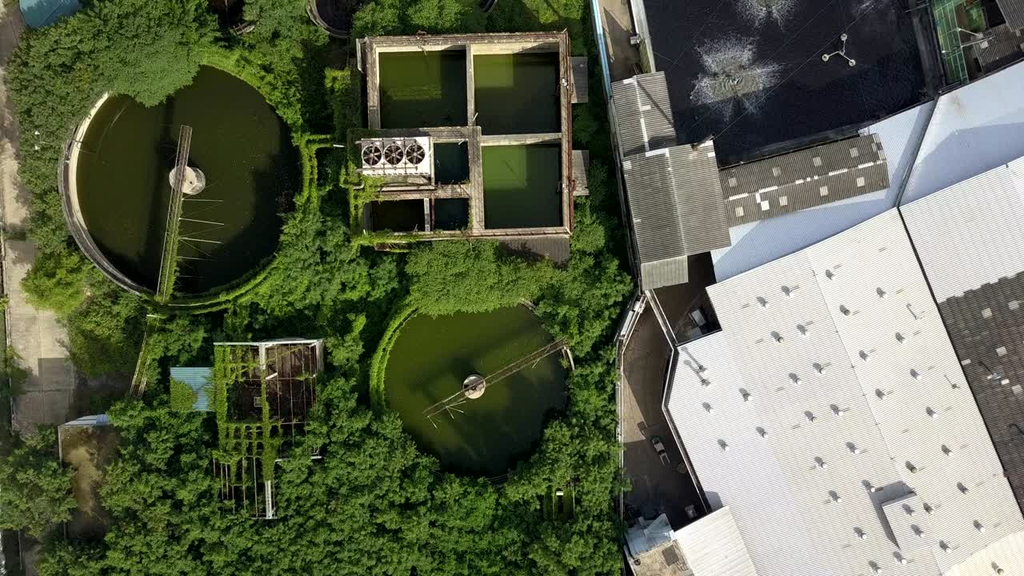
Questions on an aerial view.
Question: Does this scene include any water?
Yes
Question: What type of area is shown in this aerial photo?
industrial area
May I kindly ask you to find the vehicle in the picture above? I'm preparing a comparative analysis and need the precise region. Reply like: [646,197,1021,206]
[648,432,668,464]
